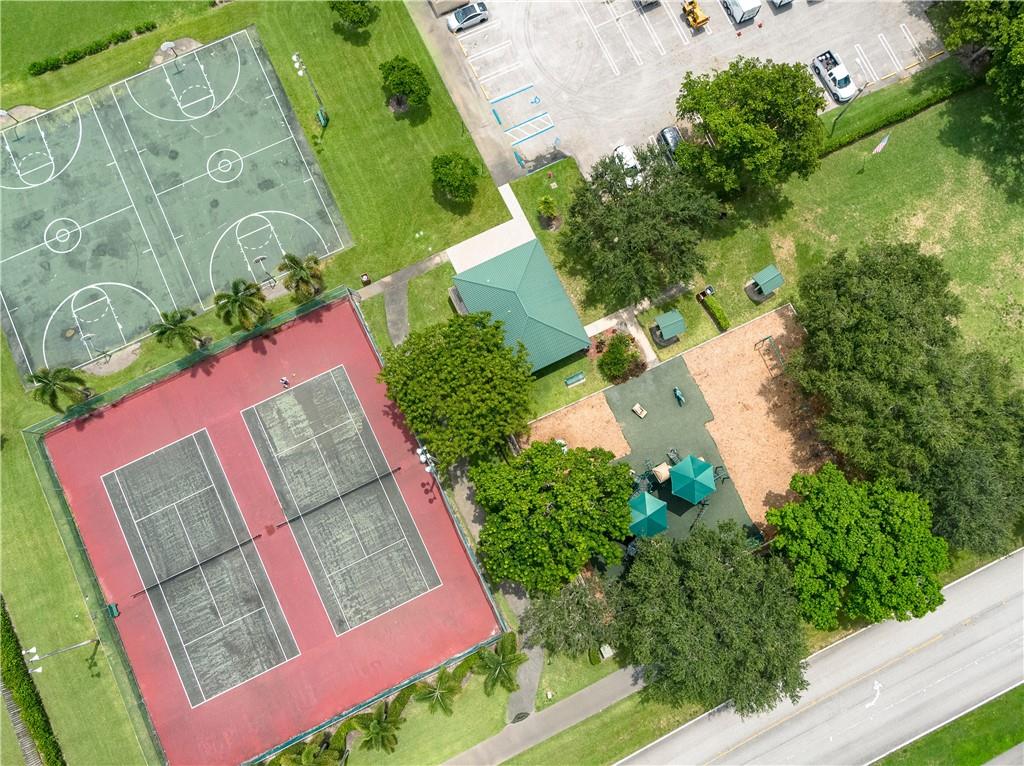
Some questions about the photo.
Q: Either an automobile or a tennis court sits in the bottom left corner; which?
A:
tennis court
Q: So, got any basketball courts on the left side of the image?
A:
Yes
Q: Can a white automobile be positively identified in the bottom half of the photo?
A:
No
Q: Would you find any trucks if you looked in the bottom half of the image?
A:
No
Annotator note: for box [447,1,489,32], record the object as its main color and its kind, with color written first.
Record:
white car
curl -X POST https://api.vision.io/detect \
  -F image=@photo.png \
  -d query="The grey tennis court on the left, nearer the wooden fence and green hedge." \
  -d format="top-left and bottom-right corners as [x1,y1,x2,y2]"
[43,366,335,766]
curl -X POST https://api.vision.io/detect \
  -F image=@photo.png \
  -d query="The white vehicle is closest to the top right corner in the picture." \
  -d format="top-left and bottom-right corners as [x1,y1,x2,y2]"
[814,49,857,102]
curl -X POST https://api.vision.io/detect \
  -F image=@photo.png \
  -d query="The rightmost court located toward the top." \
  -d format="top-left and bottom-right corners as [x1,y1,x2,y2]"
[97,23,355,318]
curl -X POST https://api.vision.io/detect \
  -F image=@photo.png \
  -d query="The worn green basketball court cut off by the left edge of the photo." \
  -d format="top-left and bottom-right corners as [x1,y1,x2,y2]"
[0,89,190,392]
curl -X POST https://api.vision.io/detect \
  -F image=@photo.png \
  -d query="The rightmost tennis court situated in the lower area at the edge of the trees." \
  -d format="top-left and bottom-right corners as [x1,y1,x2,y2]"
[191,296,500,716]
